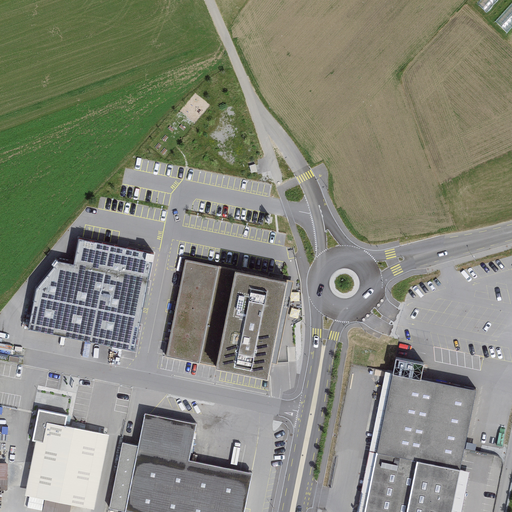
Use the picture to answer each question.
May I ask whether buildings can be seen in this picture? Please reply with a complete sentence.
Yes, this view includes a building.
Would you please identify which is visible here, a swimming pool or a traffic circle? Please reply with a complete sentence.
There is a traffic circle in the scene.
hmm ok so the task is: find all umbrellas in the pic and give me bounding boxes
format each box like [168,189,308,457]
[290,308,300,318]
[290,292,300,302]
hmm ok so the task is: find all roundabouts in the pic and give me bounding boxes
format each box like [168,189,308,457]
[306,246,382,322]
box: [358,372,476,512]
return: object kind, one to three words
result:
building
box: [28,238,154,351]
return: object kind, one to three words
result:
warehouse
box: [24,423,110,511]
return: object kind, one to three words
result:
building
